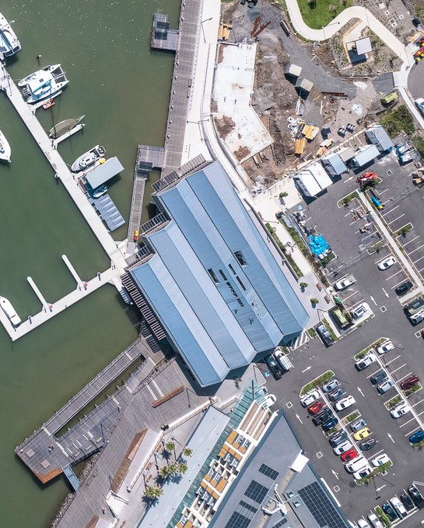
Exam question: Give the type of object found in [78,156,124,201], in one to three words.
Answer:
shed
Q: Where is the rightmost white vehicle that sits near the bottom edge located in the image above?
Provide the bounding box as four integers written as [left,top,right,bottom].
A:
[389,494,409,518]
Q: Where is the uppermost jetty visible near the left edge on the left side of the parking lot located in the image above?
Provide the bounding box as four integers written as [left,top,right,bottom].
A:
[0,256,128,340]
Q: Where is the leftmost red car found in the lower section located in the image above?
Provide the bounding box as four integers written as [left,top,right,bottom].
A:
[307,401,325,415]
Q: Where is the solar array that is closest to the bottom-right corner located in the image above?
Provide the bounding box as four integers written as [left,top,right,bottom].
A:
[299,481,346,528]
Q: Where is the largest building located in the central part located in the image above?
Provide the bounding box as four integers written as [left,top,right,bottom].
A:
[123,162,309,388]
